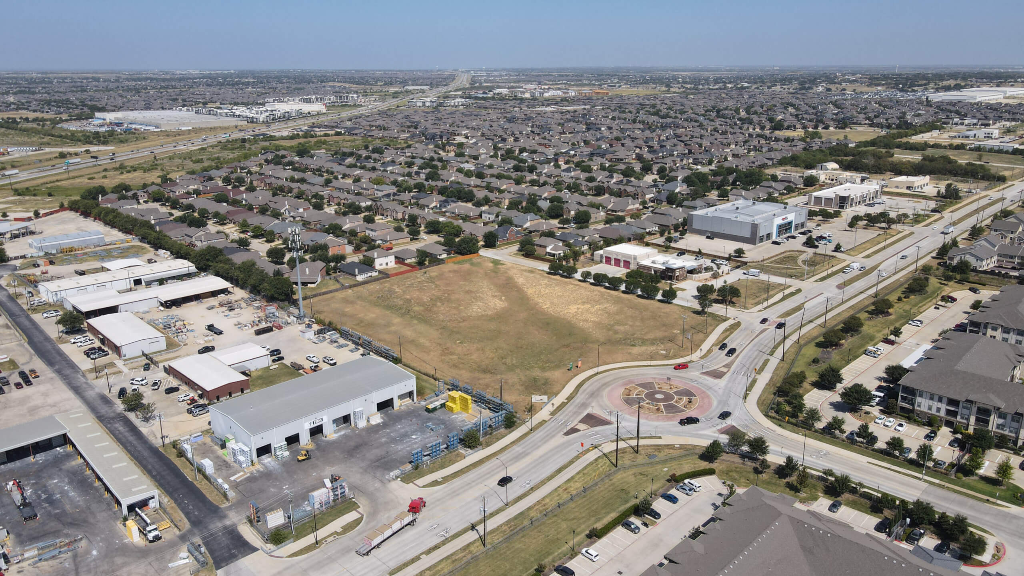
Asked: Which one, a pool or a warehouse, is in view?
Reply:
warehouse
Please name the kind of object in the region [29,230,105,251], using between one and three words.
shed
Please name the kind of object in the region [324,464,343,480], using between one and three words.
work vehicle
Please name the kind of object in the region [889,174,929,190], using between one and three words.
building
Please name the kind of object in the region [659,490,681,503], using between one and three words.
vehicle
